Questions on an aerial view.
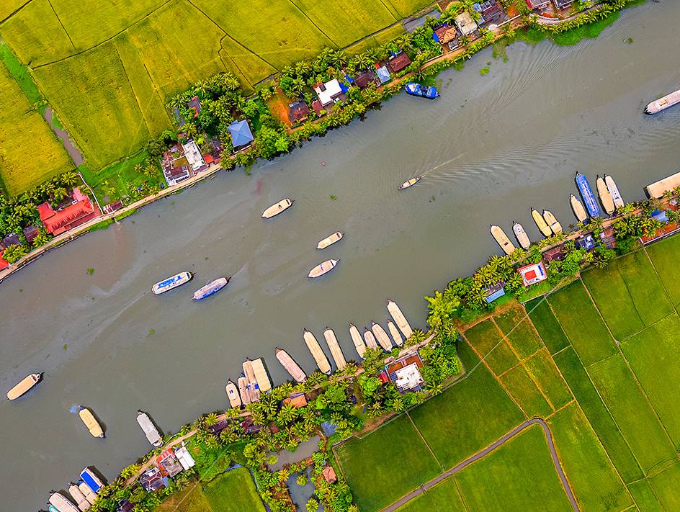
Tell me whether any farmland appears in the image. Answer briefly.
Yes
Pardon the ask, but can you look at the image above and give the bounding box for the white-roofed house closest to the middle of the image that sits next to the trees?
[383,350,423,395]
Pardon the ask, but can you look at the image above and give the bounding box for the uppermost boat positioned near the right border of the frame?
[642,91,680,113]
